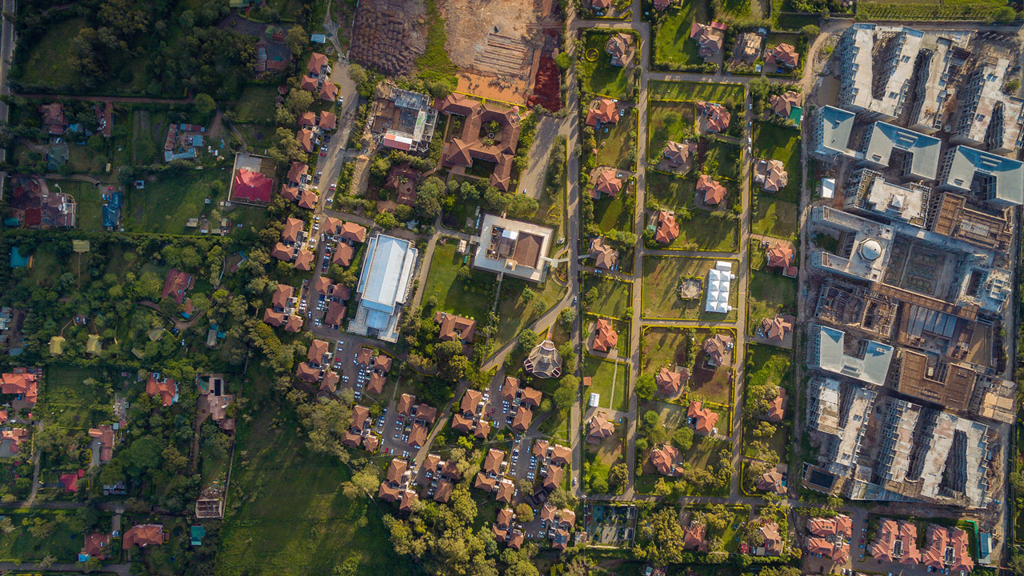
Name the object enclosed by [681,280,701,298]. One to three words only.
gazebo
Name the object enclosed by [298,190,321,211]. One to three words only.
house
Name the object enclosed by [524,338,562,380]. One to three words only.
building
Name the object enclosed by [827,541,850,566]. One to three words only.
house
